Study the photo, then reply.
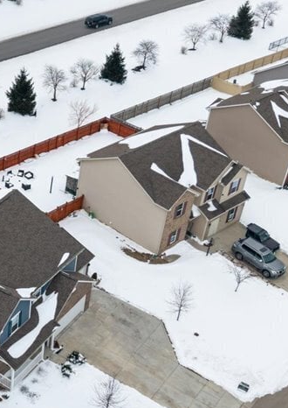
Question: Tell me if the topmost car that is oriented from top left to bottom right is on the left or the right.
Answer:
right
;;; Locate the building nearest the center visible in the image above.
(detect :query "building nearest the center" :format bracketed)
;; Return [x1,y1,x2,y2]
[74,117,257,254]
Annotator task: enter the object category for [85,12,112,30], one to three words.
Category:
car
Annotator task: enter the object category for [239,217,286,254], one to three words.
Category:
car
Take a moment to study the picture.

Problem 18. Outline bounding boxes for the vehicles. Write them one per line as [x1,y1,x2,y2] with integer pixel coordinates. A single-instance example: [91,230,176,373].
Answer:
[232,235,285,274]
[239,217,286,254]
[85,12,112,30]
